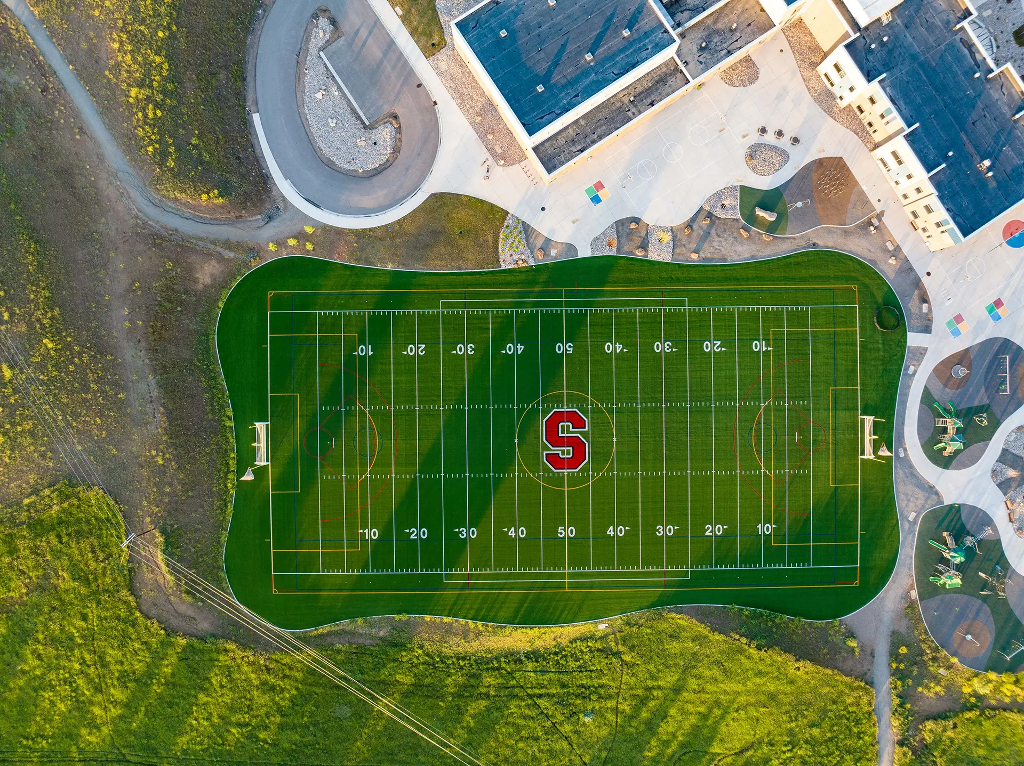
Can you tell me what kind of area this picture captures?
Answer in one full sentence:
The picture captures a sports ground.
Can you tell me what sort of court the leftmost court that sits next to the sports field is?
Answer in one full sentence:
Specifically, the leftmost court that sits next to the sports field is a basketball court.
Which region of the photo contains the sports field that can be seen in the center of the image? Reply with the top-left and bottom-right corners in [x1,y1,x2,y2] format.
[216,248,908,632]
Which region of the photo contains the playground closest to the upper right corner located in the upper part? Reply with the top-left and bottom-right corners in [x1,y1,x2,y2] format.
[813,157,858,226]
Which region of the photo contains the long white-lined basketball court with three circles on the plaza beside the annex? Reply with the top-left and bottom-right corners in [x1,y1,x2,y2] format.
[606,94,741,211]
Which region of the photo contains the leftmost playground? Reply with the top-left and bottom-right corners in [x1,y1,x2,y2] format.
[740,185,788,235]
